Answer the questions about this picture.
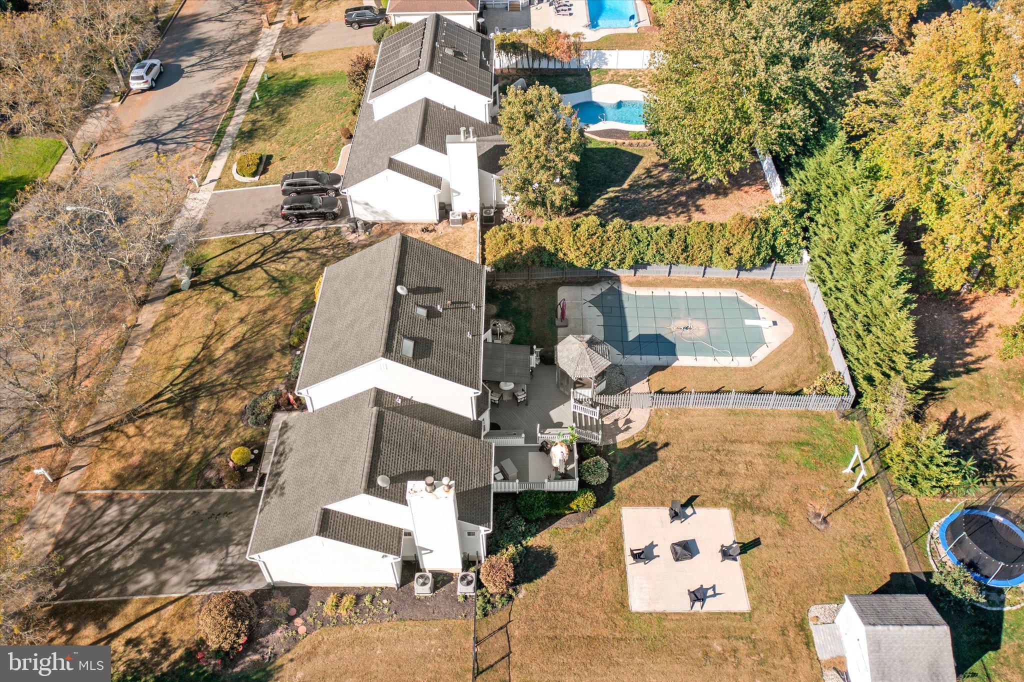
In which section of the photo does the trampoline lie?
bottom right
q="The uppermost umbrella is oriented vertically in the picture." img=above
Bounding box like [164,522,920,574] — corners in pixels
[556,298,568,325]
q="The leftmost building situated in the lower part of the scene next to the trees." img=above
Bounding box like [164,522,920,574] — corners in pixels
[245,234,496,591]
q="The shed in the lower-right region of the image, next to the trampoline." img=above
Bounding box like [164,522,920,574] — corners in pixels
[836,595,957,682]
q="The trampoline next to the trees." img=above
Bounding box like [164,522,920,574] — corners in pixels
[937,497,1024,592]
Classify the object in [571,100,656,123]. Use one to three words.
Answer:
swimming pool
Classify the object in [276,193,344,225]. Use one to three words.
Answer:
car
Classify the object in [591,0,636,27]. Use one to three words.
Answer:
swimming pool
